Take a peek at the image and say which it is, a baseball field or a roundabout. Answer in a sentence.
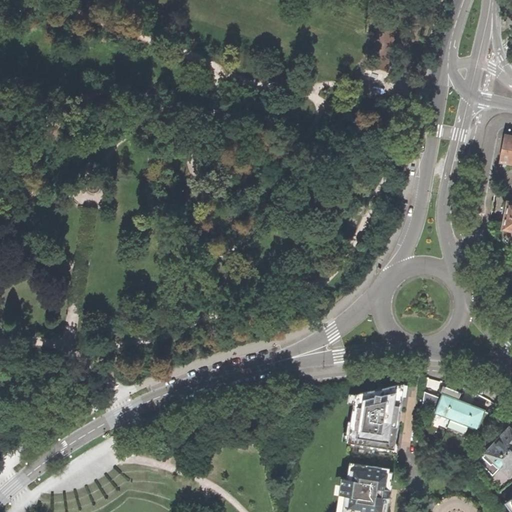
There is a roundabout in the scene.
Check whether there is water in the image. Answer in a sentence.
No, water can't be seen anywhere here.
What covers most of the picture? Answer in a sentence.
Most of the picture is covered by trees.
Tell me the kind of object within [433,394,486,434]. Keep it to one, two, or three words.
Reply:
house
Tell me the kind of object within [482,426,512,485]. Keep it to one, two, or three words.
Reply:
house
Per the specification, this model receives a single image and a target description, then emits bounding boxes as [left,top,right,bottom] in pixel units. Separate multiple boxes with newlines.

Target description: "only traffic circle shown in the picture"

[376,260,470,354]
